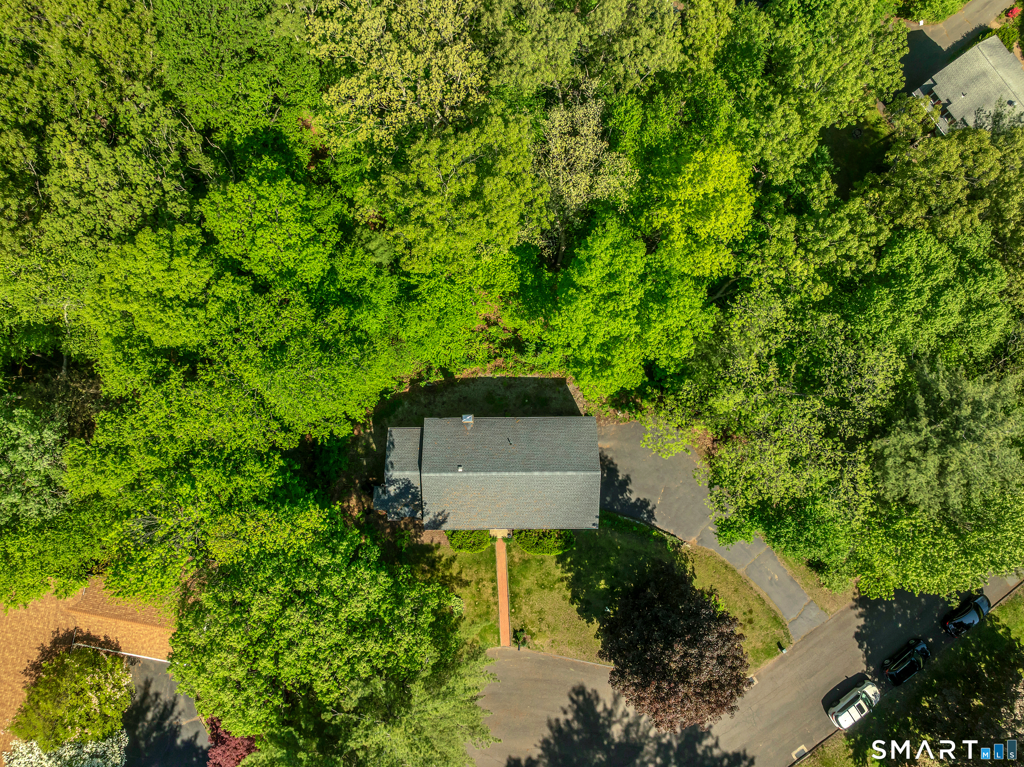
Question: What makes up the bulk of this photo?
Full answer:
What you mostly see from above here is trees.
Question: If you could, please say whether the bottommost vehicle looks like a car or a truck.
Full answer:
Specifically, the bottommost vehicle is a car.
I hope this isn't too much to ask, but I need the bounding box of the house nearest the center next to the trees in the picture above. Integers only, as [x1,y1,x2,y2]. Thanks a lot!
[372,414,602,530]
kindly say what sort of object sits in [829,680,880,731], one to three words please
car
